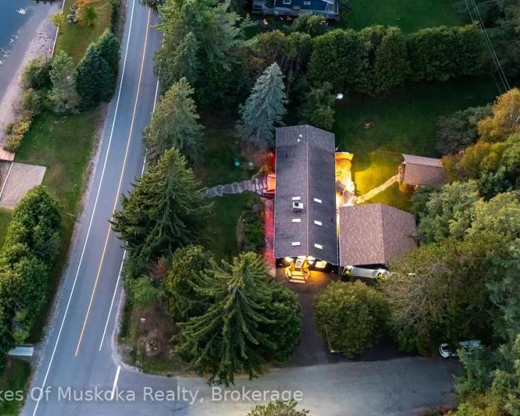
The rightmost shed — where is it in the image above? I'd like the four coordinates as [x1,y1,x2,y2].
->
[390,151,452,190]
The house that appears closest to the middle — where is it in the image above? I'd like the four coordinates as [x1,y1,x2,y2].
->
[251,122,341,290]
